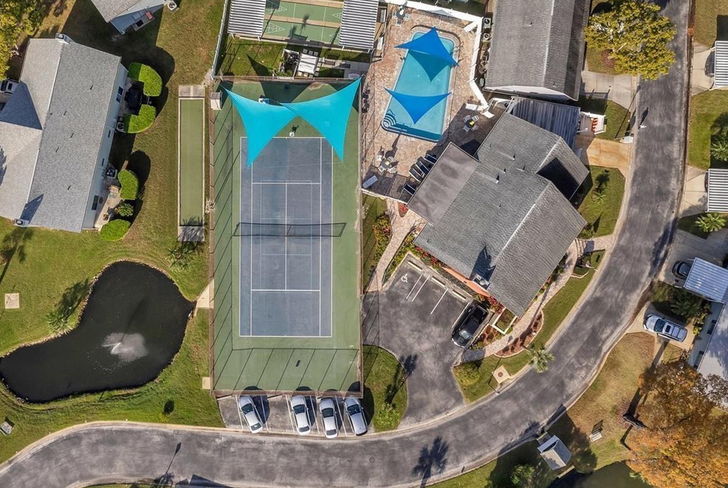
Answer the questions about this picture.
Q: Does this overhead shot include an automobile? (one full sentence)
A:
Yes, there's an automobile down there.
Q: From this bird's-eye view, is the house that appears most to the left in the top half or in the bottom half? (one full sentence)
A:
Seen from above, the house that appears most to the left lies in the top half of the view.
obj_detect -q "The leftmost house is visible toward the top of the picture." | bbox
[0,31,127,233]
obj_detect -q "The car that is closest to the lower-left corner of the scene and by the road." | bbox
[239,395,264,435]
